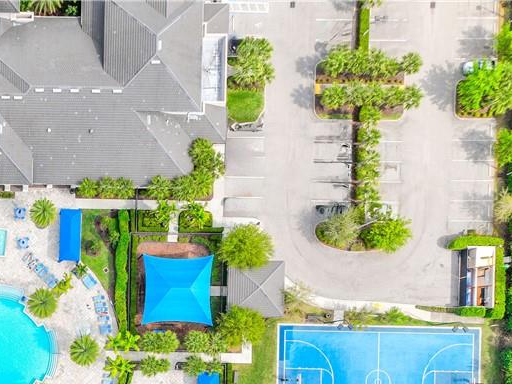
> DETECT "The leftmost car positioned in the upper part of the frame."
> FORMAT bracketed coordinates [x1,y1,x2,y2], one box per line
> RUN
[233,117,264,133]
